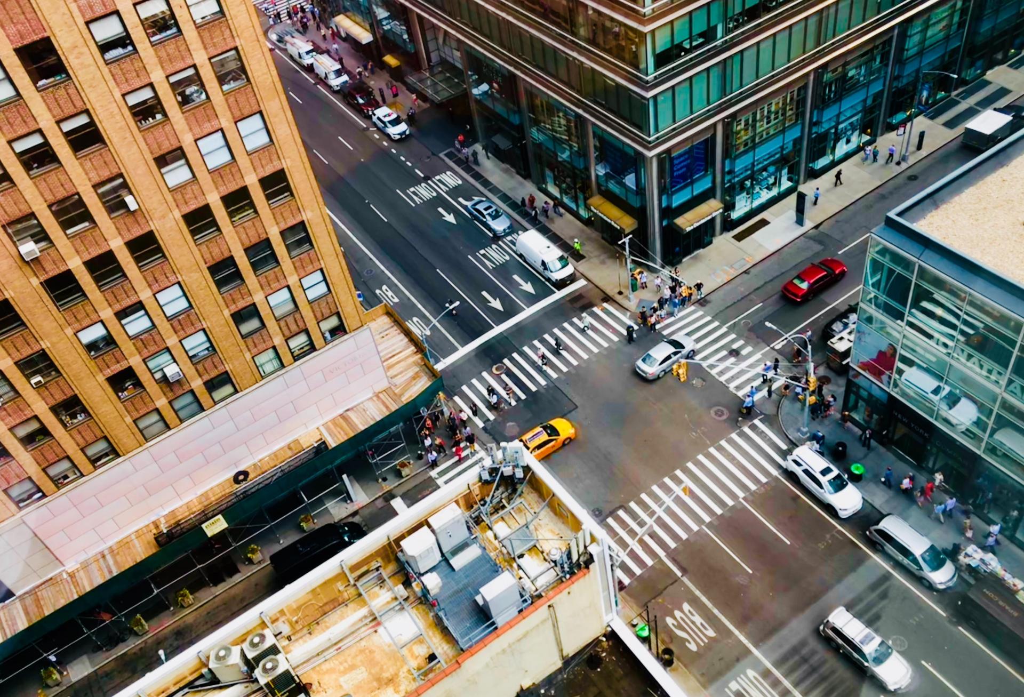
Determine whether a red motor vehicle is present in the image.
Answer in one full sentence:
Yes, a red motor vehicle appears in the view.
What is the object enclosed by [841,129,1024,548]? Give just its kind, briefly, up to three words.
building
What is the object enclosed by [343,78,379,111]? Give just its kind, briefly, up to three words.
car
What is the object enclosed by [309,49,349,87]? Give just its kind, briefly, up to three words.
van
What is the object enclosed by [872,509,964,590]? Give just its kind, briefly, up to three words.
car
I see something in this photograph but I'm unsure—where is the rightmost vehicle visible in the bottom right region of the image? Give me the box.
[975,580,1024,659]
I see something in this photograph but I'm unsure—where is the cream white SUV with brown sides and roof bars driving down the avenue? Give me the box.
[829,611,921,697]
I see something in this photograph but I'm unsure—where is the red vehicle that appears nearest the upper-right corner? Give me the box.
[785,254,848,299]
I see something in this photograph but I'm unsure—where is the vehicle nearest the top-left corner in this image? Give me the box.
[283,31,318,66]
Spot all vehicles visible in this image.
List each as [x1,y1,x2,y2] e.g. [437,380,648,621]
[514,222,575,281]
[958,107,1023,160]
[637,330,700,378]
[283,31,318,66]
[309,49,349,87]
[264,515,366,585]
[469,197,514,234]
[789,445,868,514]
[872,509,964,590]
[827,299,858,334]
[371,104,409,137]
[975,580,1024,659]
[829,611,921,697]
[525,419,577,460]
[1008,104,1024,128]
[785,254,848,299]
[343,78,379,111]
